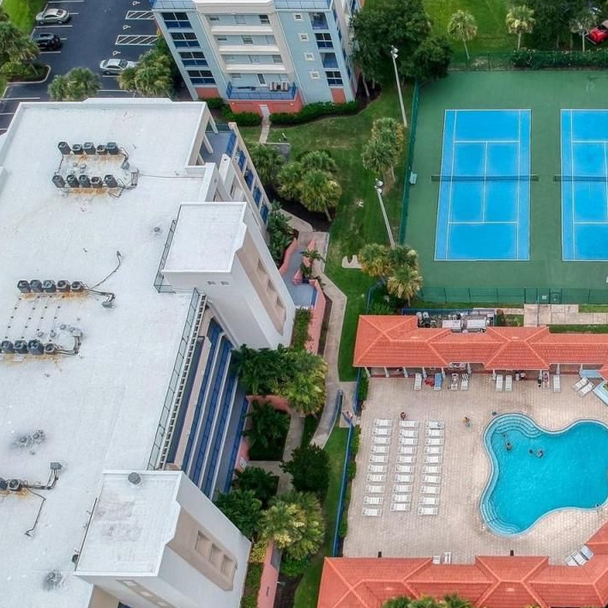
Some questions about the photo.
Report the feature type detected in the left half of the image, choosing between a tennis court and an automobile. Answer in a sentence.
What appears in the left half of the image is an automobile.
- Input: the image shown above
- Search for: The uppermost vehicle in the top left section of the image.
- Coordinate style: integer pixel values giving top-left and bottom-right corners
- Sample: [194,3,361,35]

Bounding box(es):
[33,5,68,24]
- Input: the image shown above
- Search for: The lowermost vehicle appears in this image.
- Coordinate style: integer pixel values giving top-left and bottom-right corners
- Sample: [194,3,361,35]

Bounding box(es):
[98,56,136,73]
